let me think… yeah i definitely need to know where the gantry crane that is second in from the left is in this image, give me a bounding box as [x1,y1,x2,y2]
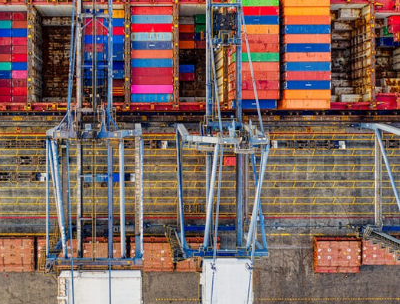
[150,0,273,304]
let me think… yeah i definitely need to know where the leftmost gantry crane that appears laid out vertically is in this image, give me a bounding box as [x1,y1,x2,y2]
[39,0,148,304]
